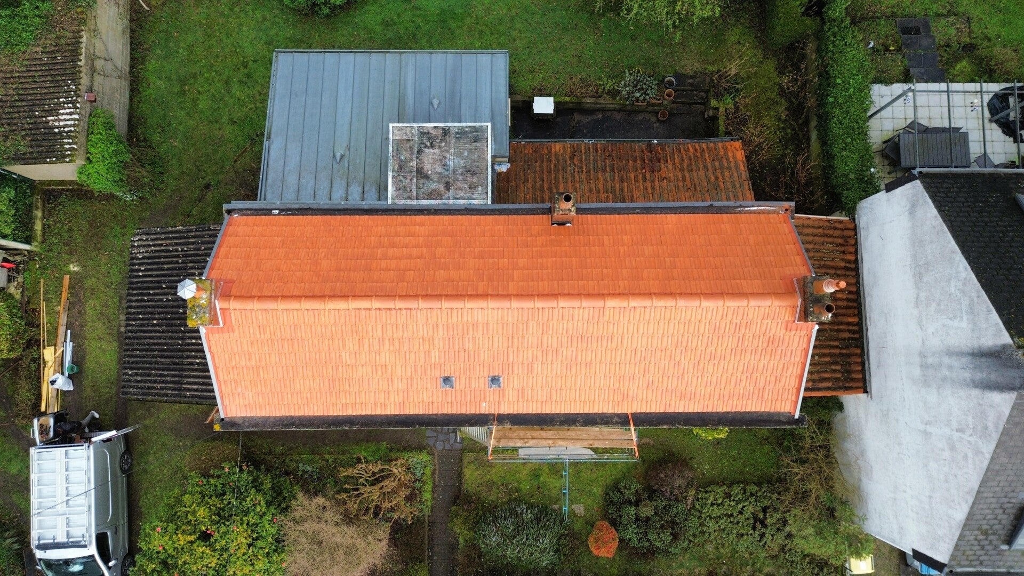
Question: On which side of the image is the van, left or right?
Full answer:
You can find the van on the left side of the picture.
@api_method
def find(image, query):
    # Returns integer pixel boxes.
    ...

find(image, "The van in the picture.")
[29,414,140,576]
